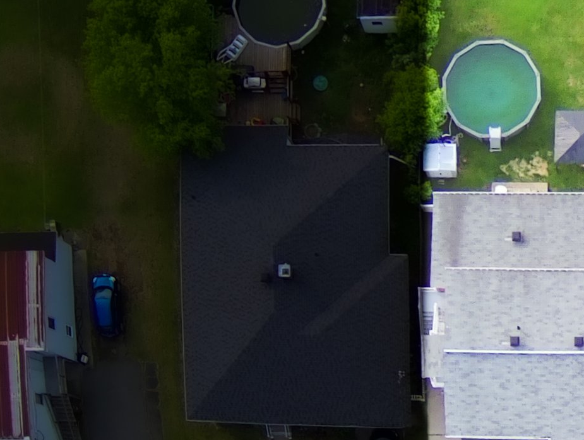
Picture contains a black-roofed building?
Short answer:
Yes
